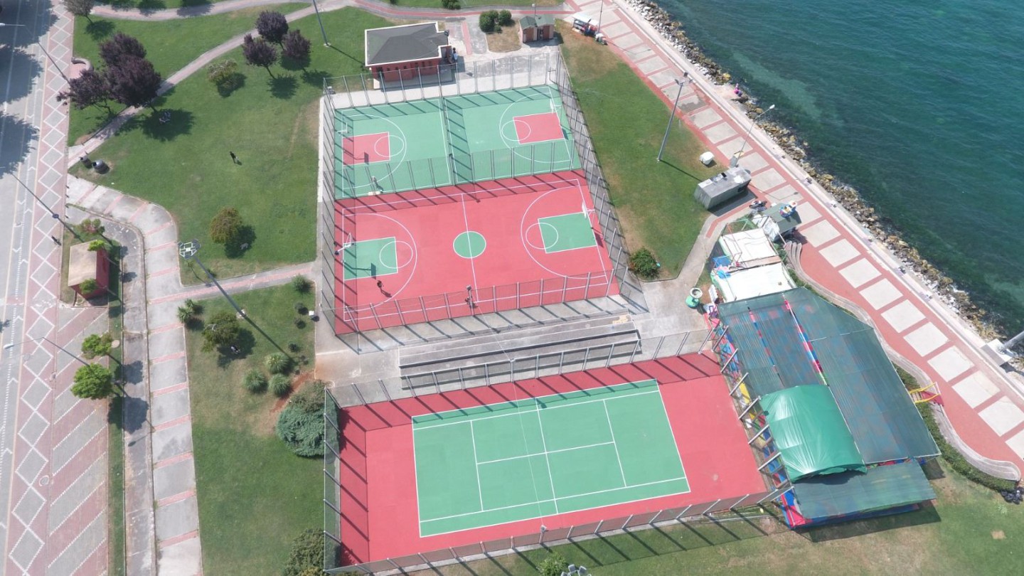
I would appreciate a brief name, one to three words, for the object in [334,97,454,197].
basketball court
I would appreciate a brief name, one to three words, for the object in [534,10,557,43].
building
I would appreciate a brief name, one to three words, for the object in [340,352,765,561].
tennis court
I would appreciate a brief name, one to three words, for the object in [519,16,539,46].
building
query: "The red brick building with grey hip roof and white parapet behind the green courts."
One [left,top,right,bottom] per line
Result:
[364,20,452,89]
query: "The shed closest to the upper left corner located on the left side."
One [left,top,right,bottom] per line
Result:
[68,239,110,297]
